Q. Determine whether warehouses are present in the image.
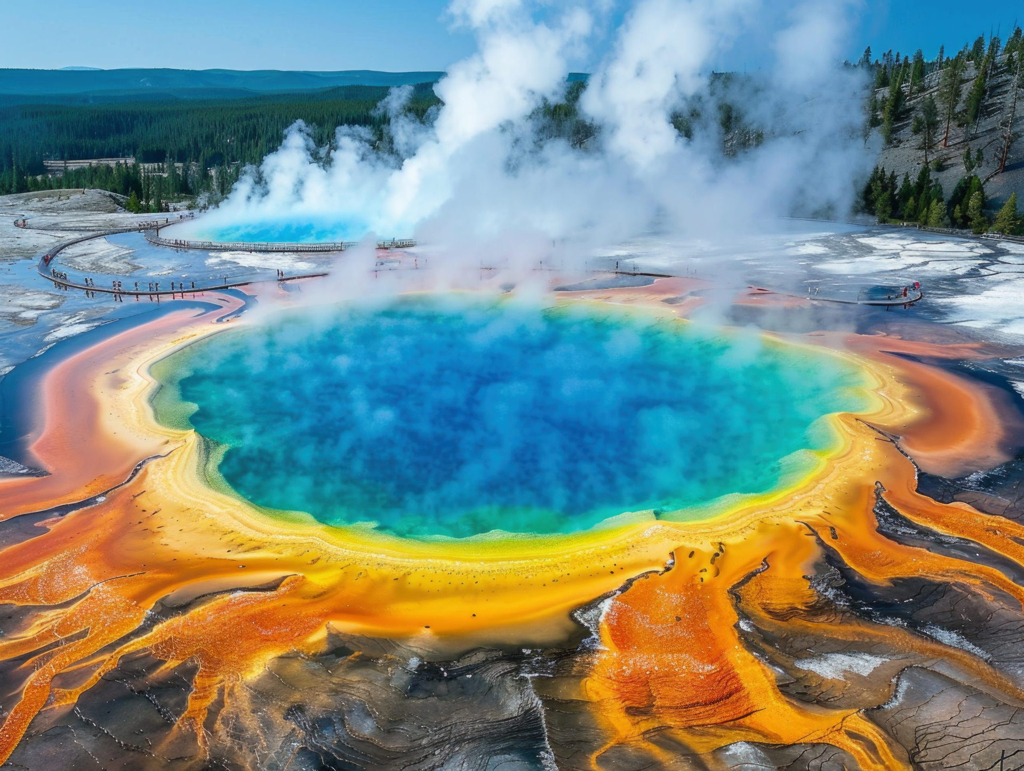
No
